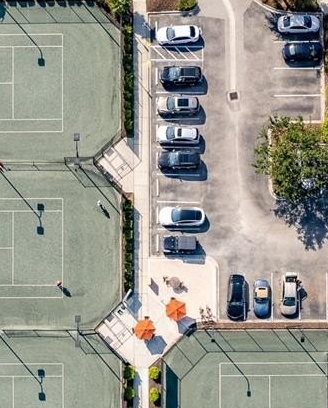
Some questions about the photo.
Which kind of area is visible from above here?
sports ground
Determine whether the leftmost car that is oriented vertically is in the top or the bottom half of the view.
bottom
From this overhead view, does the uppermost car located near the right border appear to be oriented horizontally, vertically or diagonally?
horizontally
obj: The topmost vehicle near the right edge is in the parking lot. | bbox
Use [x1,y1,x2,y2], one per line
[276,14,320,37]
